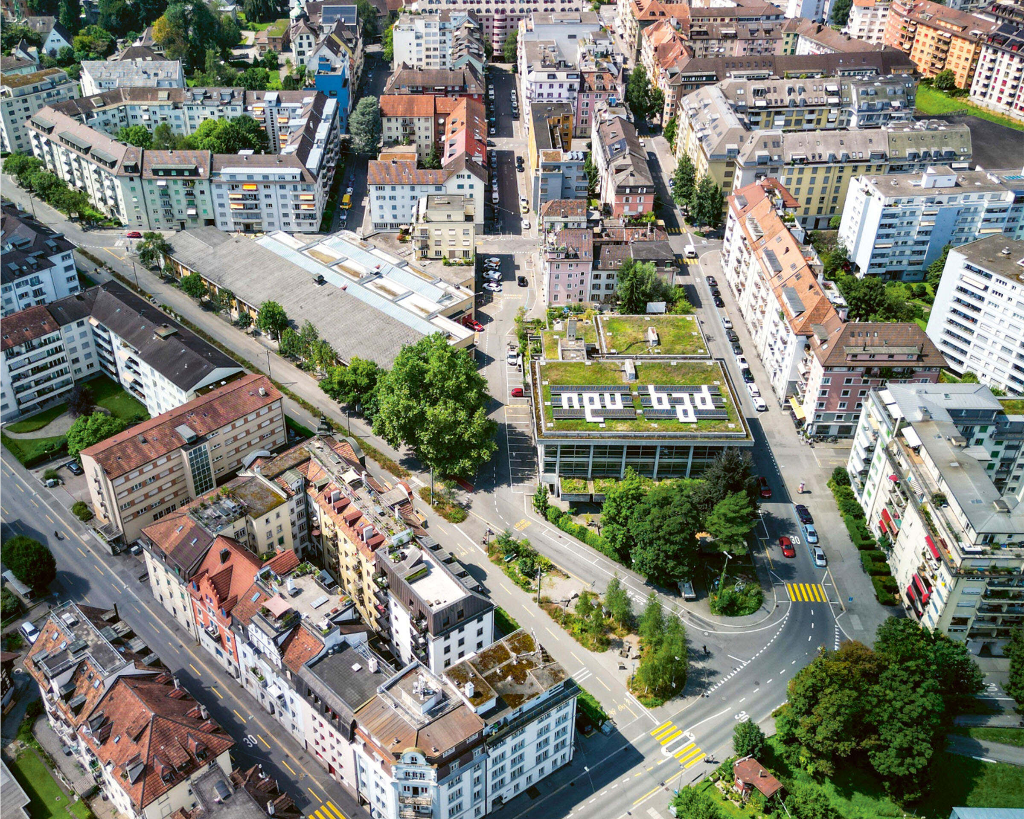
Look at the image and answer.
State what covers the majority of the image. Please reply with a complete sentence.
What you mostly see from above here is buildings.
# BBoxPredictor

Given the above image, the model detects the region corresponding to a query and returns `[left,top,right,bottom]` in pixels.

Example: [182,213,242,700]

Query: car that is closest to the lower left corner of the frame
[18,616,40,640]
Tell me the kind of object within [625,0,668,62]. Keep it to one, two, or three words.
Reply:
house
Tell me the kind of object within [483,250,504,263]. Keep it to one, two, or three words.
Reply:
vehicle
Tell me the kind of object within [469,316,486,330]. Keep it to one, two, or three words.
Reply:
car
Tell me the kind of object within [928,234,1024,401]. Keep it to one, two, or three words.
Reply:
building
